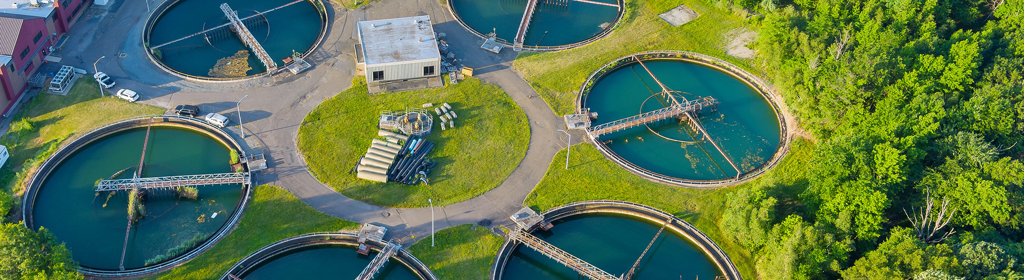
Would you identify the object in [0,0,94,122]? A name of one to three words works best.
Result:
building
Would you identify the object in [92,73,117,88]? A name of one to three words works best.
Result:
vehicle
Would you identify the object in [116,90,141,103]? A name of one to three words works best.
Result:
vehicle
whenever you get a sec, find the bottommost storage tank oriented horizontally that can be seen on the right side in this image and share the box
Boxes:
[493,198,742,280]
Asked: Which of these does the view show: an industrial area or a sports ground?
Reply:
industrial area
